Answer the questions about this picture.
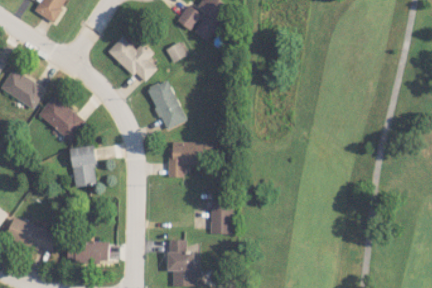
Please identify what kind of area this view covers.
golf course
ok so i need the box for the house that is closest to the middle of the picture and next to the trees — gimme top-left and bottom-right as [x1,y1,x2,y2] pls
[172,143,215,178]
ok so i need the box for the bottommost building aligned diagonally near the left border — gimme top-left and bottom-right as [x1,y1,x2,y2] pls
[9,218,52,254]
